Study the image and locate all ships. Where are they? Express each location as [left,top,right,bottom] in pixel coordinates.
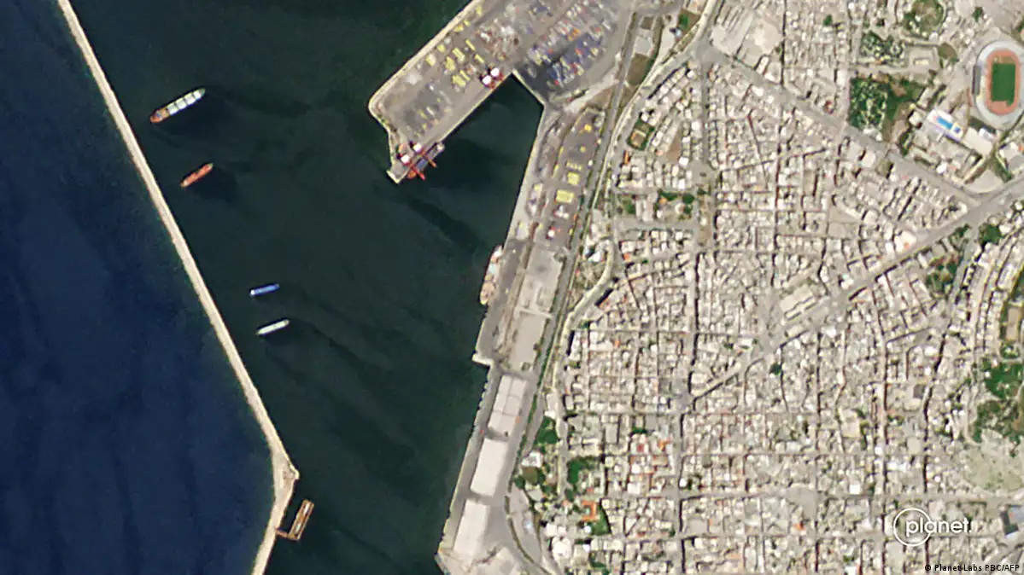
[148,87,206,121]
[179,163,213,188]
[249,284,279,295]
[479,245,504,306]
[257,320,290,335]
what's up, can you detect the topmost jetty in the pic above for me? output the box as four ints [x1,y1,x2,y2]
[369,0,585,183]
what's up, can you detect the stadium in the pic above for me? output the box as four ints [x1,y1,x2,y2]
[973,38,1024,129]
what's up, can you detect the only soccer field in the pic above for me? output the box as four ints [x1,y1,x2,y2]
[992,64,1015,101]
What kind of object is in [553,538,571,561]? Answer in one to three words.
house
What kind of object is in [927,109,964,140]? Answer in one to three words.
swimming pool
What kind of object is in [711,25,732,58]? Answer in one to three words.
building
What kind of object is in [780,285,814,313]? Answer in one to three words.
shed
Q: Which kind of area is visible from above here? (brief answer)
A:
port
